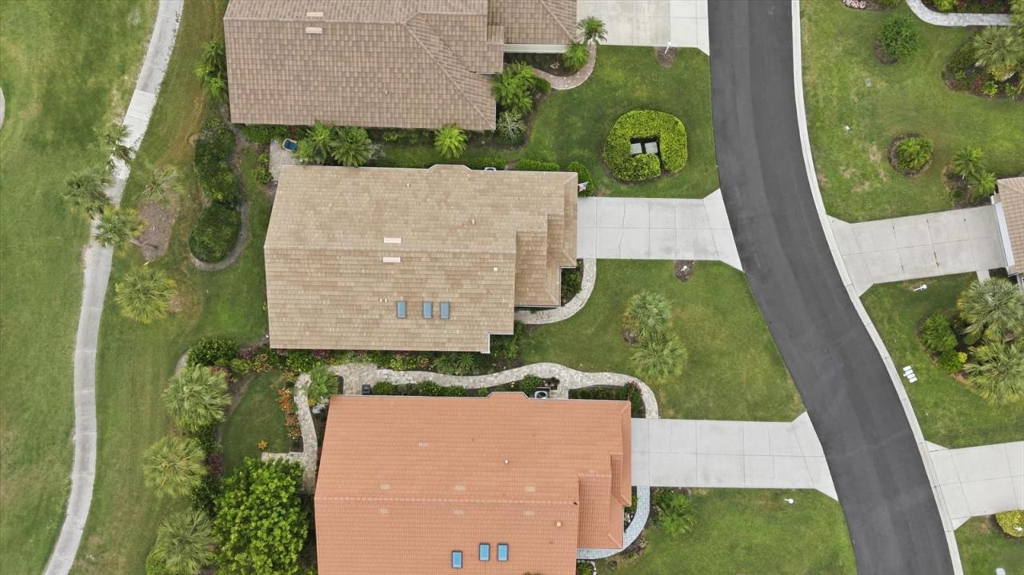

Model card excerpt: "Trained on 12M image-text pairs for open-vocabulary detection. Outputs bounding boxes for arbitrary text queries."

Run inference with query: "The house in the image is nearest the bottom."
[314,391,632,575]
